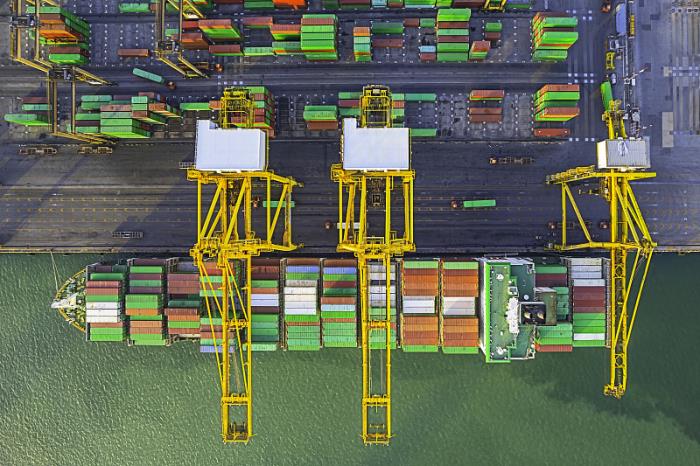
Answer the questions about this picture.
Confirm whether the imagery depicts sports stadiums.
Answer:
No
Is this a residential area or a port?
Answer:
port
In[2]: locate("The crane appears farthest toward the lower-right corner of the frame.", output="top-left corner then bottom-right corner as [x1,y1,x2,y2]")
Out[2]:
[538,105,657,401]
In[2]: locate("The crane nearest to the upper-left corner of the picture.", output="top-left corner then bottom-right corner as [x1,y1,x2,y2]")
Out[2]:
[12,0,88,82]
